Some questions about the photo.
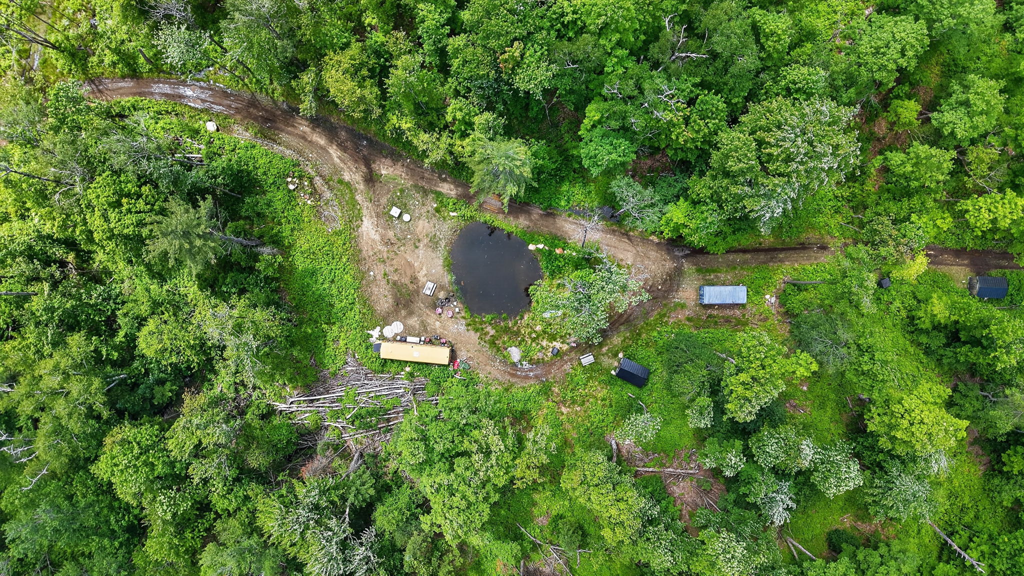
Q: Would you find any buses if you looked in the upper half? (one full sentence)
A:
No, no bus is visible in the upper half.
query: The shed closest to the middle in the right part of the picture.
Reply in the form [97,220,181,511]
[615,358,649,387]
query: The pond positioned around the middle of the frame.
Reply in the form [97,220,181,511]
[453,224,541,318]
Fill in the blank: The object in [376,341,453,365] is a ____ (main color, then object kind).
white bus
